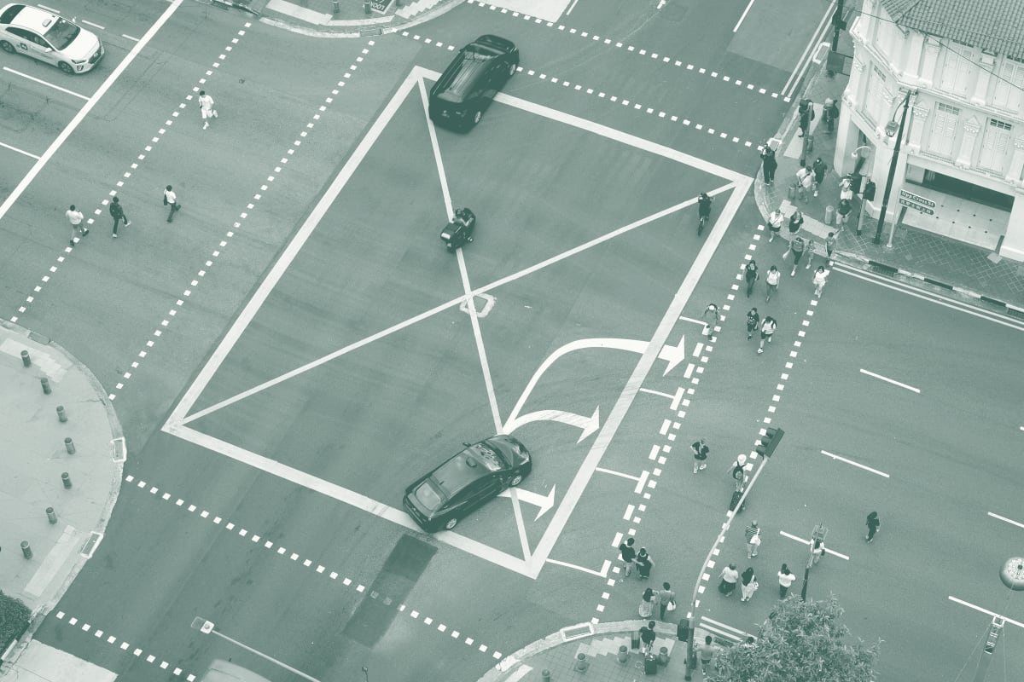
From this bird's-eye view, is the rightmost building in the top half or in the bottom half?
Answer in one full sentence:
It is in the top half that the rightmost building appears.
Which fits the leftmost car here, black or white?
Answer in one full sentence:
From above, the leftmost car appears white.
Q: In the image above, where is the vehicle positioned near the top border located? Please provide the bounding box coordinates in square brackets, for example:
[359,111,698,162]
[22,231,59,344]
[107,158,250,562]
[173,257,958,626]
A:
[0,3,104,73]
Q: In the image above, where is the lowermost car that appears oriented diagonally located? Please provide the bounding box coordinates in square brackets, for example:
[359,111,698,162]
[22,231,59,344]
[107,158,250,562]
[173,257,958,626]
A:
[404,432,528,529]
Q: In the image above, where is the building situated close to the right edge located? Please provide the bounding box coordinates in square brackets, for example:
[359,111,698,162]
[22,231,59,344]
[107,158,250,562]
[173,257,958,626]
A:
[835,0,1024,258]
